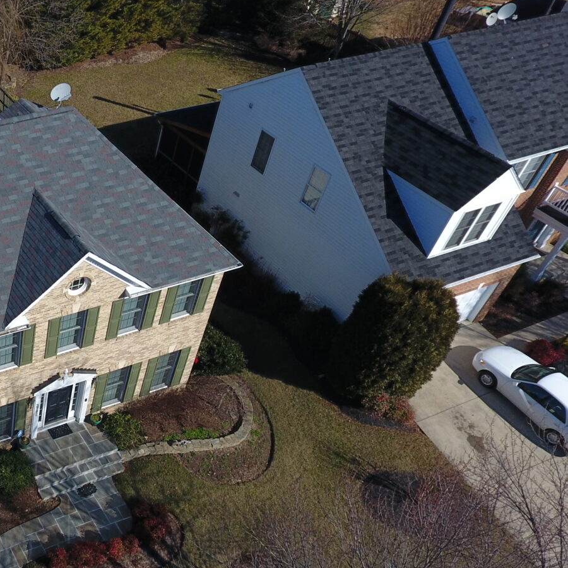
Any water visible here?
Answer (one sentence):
No, there is no water in the image.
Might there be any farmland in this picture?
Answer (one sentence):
No, there is no farmland in the image.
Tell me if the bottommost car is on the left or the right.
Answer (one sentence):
The bottommost car appears in the right half of the scene.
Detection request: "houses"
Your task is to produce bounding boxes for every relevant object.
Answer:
[145,0,568,349]
[0,88,245,450]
